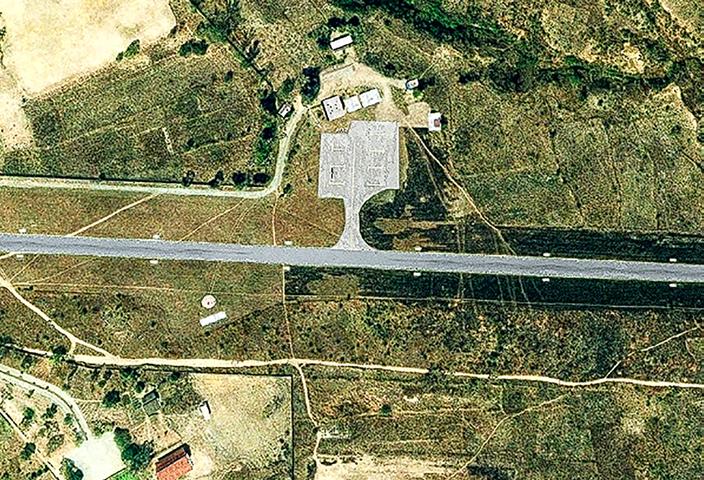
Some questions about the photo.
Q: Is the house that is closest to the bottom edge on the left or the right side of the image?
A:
left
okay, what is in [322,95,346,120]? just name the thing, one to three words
building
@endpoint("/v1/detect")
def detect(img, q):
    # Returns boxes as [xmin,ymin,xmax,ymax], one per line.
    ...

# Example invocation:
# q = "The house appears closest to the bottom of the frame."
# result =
[152,448,193,480]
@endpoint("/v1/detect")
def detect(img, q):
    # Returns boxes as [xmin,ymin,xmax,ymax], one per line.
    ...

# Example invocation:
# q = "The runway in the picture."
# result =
[0,234,704,283]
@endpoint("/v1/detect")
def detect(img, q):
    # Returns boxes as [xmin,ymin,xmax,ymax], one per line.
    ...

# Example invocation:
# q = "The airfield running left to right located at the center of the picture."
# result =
[0,121,704,283]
